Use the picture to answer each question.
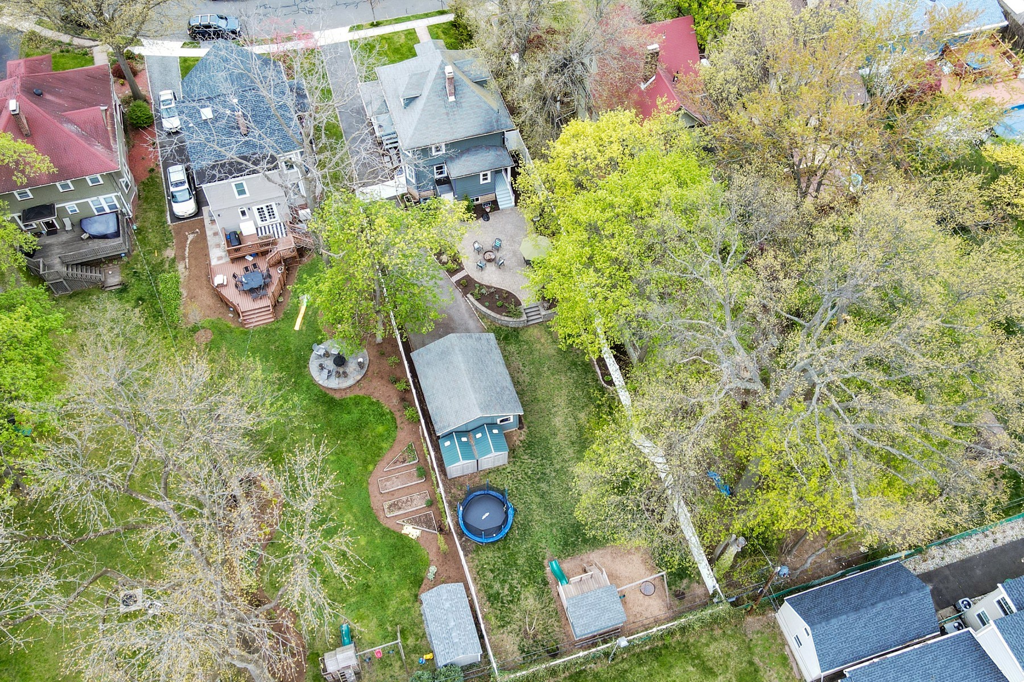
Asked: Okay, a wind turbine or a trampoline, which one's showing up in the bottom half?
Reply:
trampoline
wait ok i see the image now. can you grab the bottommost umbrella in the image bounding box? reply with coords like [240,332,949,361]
[519,236,553,269]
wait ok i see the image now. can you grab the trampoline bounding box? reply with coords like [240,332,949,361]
[457,481,515,554]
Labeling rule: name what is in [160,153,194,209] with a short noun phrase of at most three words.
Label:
car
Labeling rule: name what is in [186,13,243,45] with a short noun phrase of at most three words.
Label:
car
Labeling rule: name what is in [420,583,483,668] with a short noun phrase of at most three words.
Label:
shed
